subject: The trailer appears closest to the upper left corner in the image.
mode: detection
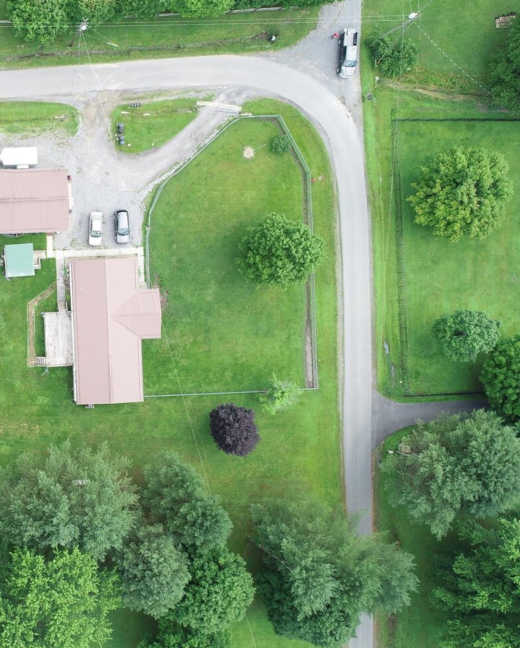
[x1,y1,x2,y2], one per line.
[0,146,39,169]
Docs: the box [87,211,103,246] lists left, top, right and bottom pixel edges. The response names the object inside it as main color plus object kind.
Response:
white car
